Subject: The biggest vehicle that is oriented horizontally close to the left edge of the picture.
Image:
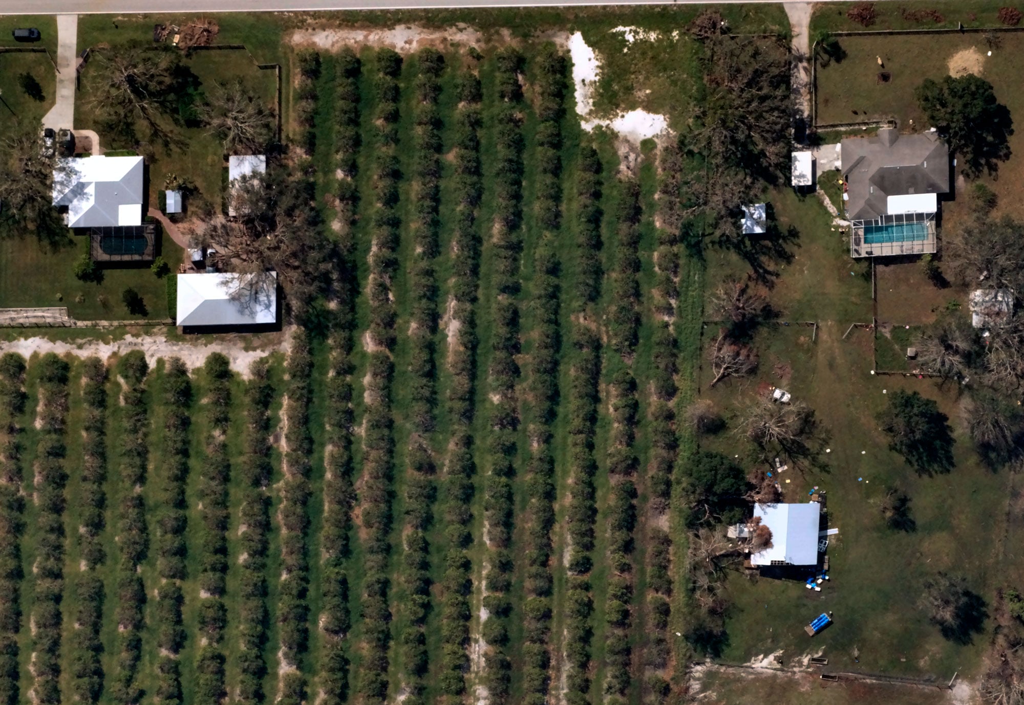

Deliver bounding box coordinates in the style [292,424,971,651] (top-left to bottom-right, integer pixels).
[12,27,40,40]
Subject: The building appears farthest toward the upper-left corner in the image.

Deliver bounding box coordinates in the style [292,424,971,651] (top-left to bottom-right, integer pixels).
[52,155,143,227]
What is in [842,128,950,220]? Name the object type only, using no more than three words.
house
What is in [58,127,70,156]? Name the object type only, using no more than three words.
vehicle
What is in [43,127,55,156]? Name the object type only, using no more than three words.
vehicle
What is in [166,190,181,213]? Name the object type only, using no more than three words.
shed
